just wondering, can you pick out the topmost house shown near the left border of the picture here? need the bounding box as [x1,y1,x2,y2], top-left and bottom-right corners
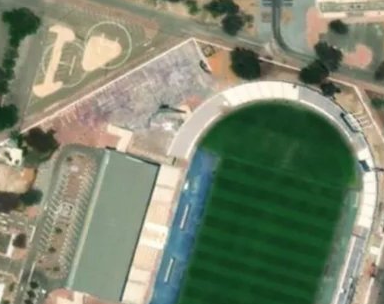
[0,147,22,167]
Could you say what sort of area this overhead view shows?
sports ground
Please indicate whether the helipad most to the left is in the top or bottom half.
top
